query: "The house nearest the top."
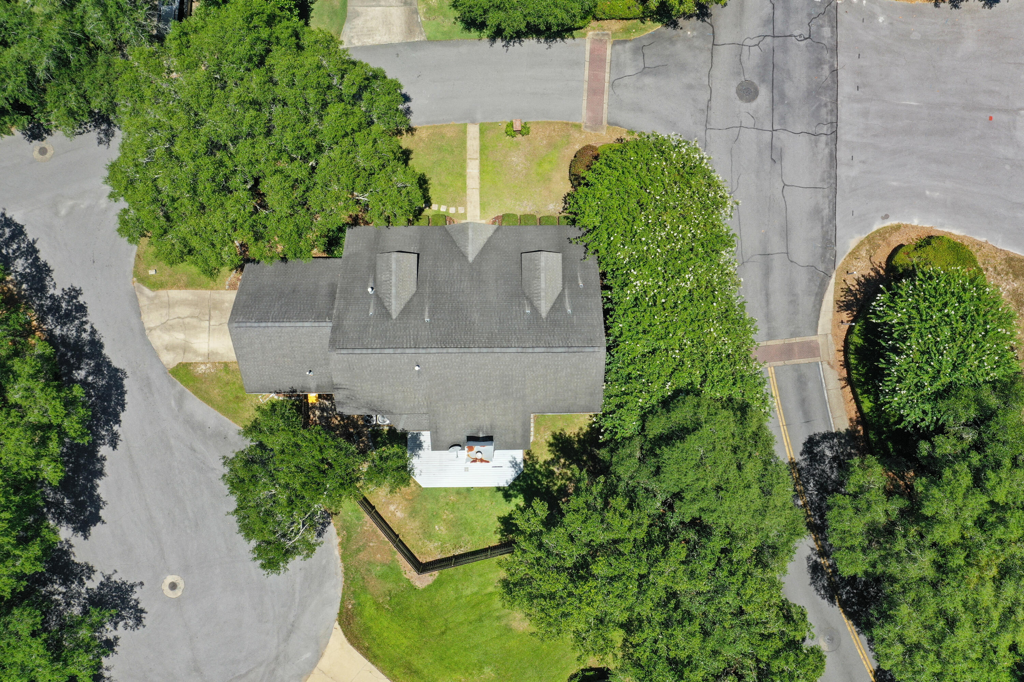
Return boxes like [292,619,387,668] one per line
[227,220,606,488]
